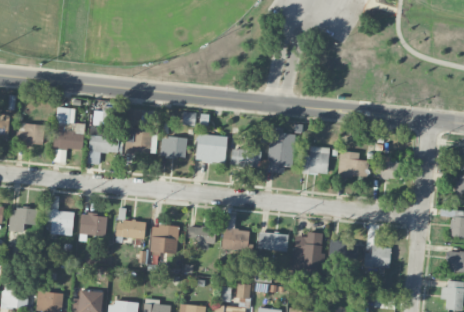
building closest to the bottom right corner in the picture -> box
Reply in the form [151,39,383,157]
[442,280,464,312]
